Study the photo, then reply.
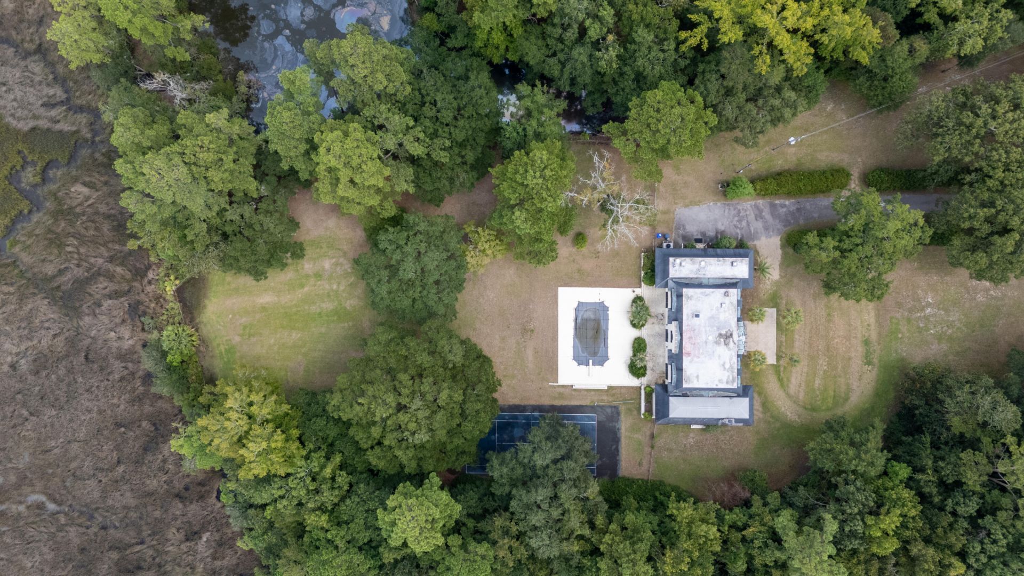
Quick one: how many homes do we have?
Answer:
one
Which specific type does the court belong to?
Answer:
tennis court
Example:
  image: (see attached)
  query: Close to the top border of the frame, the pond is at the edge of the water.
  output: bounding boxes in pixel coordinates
[200,0,427,135]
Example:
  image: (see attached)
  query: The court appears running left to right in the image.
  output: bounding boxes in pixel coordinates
[451,404,621,483]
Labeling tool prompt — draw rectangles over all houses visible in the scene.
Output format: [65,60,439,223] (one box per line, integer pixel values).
[654,248,754,425]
